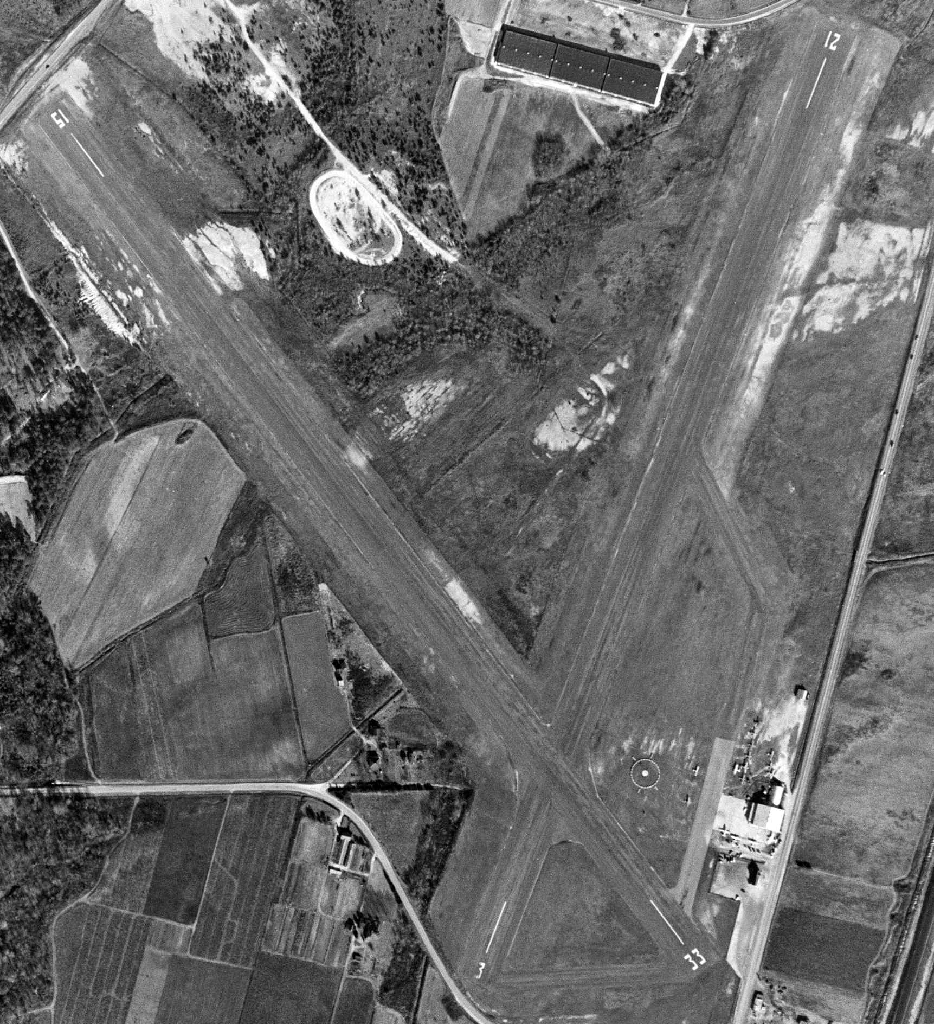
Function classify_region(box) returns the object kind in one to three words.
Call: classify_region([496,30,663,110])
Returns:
building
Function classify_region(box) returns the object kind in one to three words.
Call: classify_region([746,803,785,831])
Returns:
hangar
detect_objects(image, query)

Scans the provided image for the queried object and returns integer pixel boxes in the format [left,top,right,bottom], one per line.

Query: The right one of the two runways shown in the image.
[455,26,860,980]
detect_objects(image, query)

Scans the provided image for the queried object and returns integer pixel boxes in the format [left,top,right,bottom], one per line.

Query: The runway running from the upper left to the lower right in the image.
[43,103,724,983]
